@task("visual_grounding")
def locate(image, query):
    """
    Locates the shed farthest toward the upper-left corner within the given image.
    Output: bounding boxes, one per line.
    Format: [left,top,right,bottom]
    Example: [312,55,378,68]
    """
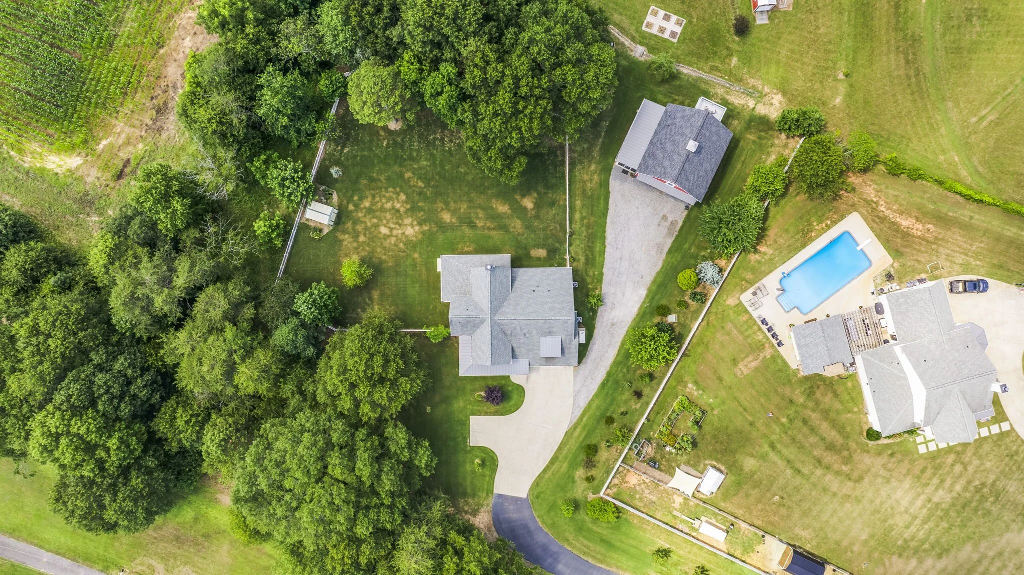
[305,201,338,225]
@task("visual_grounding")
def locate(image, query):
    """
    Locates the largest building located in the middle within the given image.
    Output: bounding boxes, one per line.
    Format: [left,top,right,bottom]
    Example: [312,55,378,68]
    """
[438,254,579,376]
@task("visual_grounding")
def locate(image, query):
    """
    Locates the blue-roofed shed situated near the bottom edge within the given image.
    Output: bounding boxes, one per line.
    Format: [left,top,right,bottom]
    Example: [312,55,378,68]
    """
[779,546,829,575]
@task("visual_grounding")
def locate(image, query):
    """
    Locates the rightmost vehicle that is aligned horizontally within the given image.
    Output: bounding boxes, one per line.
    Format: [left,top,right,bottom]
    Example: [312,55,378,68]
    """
[946,278,988,295]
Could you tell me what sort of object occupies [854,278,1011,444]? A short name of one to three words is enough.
house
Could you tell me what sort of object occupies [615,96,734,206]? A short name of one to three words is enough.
barn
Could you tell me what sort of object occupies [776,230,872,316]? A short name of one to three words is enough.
swimming pool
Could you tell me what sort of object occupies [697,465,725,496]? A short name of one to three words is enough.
shed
